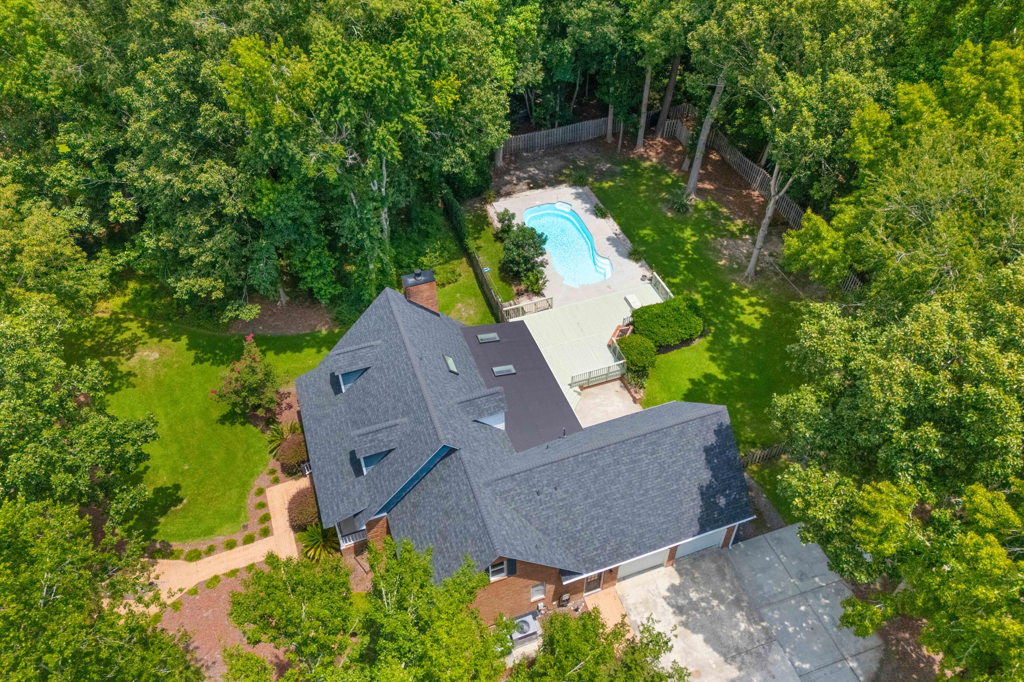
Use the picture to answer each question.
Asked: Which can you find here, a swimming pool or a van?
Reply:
swimming pool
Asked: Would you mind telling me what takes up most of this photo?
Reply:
trees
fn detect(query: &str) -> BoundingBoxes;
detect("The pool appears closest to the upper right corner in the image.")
[523,201,612,286]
